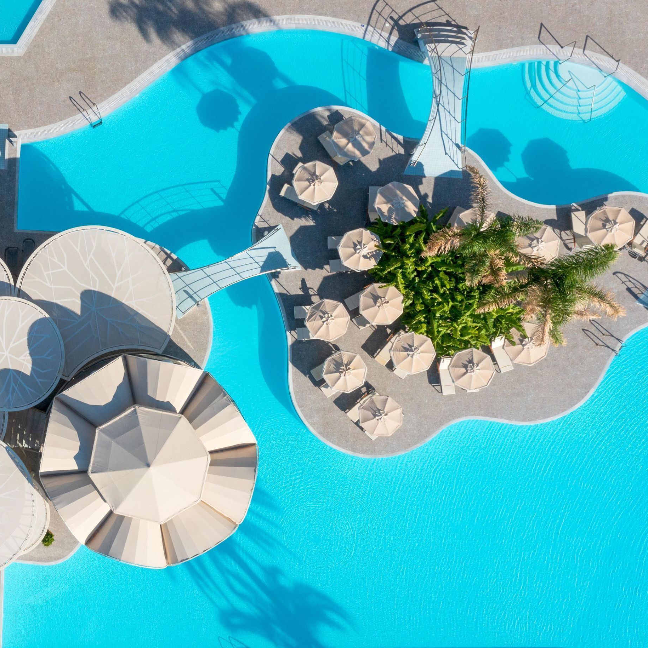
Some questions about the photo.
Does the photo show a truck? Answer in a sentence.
No, I can see no truck in this picture.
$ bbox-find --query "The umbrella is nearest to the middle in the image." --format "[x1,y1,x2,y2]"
[303,297,349,341]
